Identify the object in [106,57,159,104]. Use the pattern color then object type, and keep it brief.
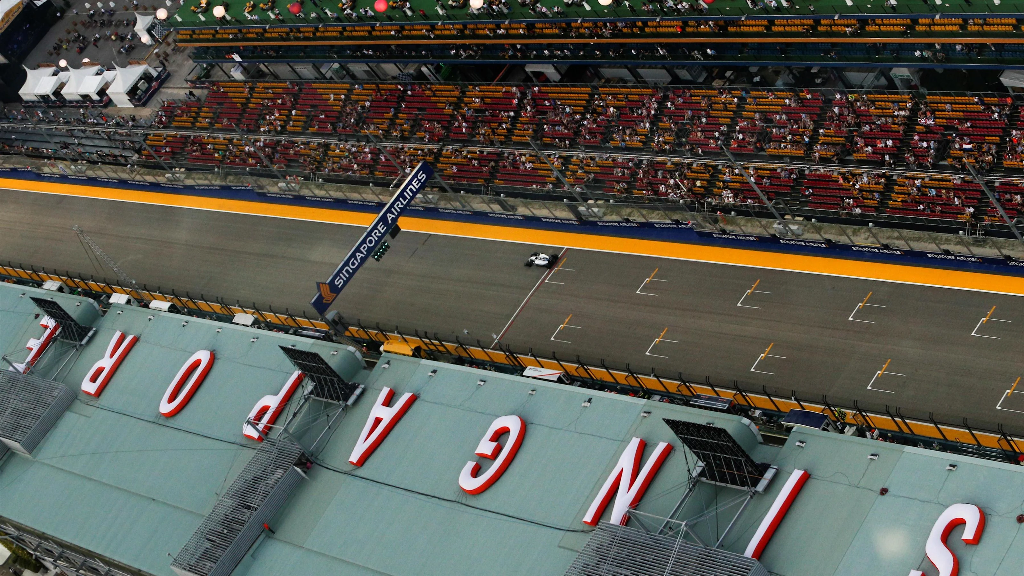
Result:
white tent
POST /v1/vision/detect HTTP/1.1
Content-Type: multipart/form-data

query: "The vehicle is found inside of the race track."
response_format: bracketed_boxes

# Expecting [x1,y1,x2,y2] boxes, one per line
[522,250,557,269]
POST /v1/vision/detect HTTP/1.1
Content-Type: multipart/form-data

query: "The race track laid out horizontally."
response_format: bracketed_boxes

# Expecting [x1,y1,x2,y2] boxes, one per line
[0,170,1024,457]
